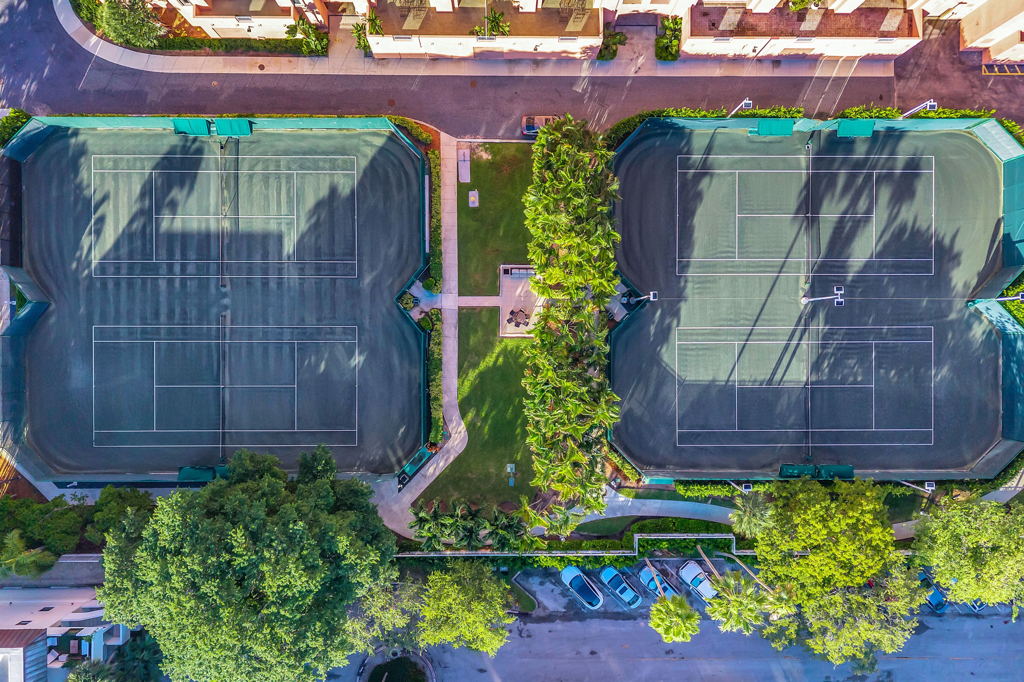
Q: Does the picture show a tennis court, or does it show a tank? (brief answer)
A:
tennis court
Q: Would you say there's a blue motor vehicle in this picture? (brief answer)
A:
Yes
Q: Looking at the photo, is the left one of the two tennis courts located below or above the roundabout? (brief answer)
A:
above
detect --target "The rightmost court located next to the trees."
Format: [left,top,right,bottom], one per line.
[611,129,1003,471]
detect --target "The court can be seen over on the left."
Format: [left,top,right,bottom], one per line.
[22,126,421,474]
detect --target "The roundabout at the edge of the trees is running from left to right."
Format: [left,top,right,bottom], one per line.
[356,646,435,682]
